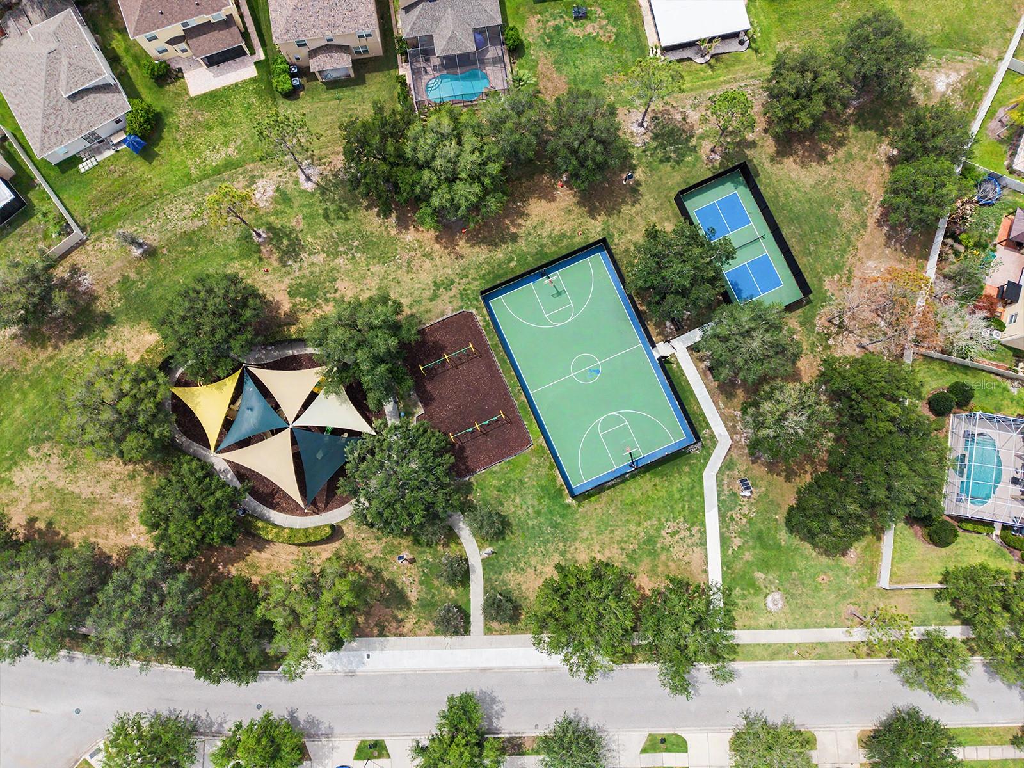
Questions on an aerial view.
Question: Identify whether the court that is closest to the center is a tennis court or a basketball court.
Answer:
basketball court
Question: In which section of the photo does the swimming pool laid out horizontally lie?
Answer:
top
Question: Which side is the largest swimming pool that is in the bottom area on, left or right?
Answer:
right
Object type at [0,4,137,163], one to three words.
house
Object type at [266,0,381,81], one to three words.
house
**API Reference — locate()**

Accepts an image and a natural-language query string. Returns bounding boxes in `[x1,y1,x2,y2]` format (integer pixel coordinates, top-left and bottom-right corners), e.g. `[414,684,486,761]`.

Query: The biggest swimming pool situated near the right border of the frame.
[957,423,1004,507]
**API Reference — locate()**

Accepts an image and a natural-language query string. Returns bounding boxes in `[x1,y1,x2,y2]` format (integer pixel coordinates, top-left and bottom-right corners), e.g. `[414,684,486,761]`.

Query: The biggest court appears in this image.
[485,244,696,496]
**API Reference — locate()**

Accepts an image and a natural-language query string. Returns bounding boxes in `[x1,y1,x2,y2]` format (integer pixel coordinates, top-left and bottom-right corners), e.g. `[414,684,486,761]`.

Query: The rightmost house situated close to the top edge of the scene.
[399,0,502,66]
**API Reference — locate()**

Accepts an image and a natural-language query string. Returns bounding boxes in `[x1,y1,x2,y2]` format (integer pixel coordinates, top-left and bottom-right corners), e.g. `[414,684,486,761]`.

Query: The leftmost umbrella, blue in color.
[125,133,146,154]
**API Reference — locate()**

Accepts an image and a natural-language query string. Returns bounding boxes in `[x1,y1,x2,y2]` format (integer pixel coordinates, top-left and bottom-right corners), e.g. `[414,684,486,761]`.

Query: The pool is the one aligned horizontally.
[425,67,492,104]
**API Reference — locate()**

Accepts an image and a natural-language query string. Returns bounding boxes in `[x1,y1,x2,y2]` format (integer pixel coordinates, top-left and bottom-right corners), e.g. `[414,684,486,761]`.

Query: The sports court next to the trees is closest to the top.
[688,171,805,315]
